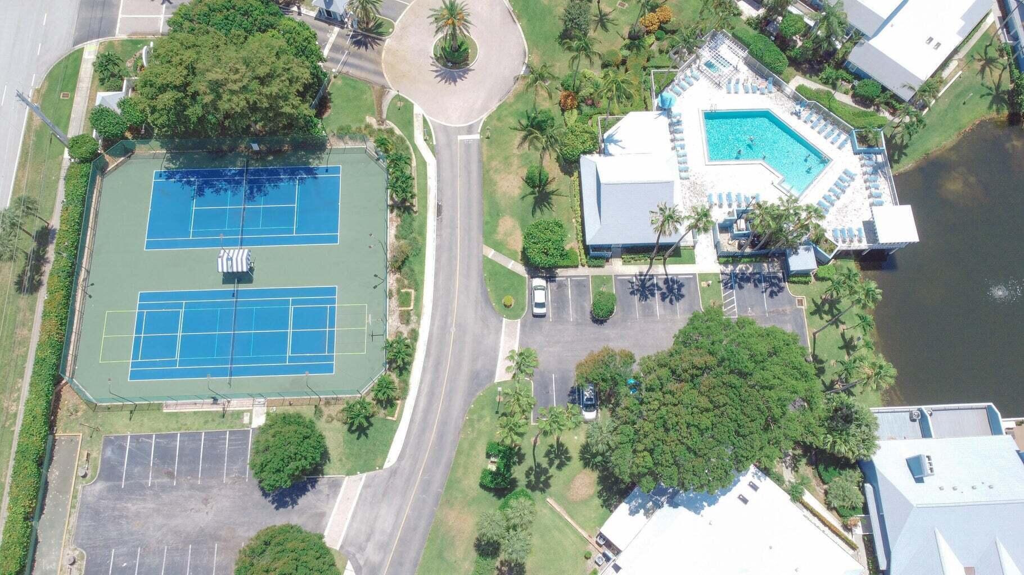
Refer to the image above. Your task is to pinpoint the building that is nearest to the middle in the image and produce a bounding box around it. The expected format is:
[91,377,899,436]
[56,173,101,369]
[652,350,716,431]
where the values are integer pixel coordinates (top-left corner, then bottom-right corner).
[580,154,684,259]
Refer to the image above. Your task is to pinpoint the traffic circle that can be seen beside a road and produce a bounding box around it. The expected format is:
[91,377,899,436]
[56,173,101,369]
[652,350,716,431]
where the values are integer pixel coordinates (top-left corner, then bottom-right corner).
[381,0,529,127]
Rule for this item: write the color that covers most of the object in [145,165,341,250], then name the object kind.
blue tennis court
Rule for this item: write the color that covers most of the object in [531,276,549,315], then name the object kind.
white car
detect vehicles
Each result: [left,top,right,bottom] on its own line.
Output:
[580,380,600,421]
[531,276,549,315]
